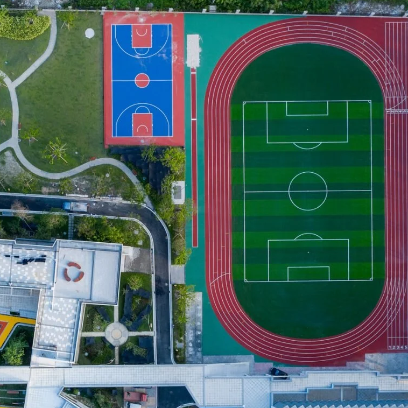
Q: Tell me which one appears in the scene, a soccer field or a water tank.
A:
soccer field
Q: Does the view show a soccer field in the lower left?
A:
No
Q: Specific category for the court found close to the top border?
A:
basketball court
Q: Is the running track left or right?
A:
right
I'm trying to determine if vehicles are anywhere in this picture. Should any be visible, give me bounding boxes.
[126,403,142,408]
[124,392,149,404]
[270,366,290,379]
[64,200,88,211]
